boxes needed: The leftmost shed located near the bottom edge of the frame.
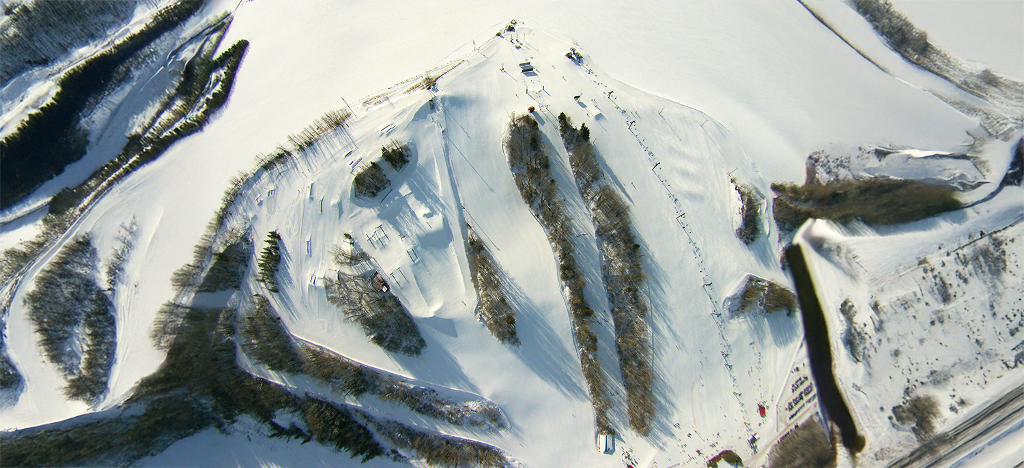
[598,436,614,456]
